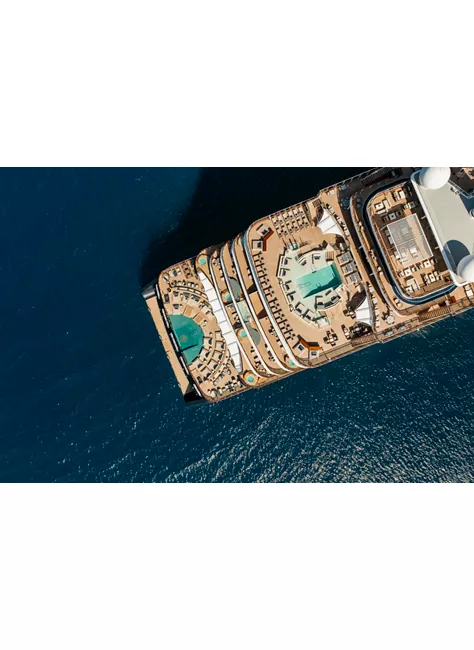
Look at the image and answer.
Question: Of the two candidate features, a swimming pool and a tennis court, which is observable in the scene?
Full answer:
The image shows a swimming pool.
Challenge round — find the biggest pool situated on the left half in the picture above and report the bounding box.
[169,314,204,364]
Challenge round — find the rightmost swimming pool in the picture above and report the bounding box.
[296,263,340,299]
